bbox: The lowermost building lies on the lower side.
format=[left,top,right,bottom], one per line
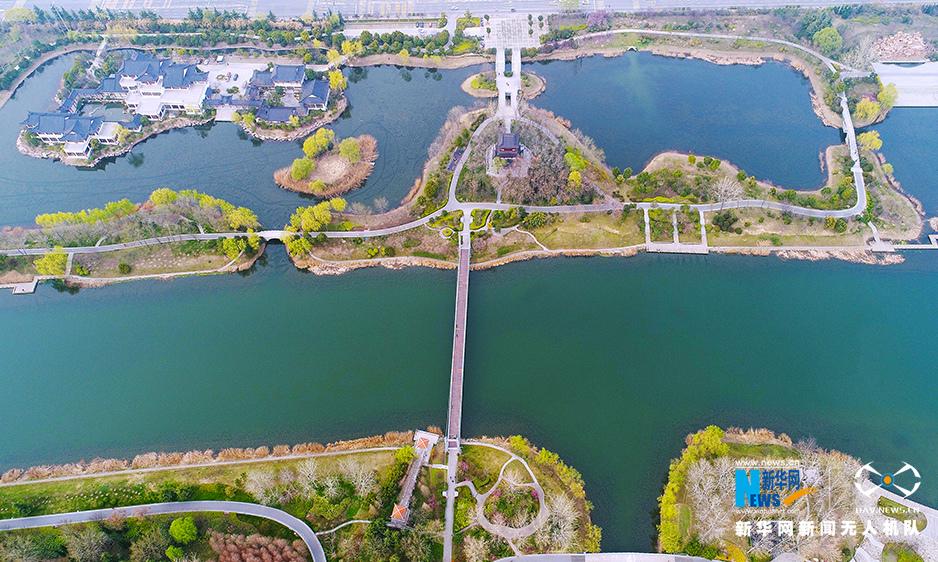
[388,500,412,526]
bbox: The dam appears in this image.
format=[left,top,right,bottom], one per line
[871,60,938,111]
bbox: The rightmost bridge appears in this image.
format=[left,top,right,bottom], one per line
[840,92,862,166]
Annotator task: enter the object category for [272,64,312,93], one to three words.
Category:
building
